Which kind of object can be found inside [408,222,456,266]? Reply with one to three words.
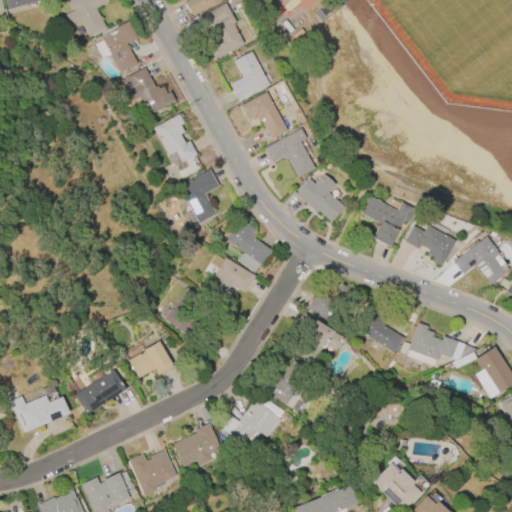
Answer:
house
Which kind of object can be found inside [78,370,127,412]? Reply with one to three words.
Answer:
house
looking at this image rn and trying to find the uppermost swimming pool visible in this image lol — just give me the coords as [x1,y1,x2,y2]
[101,58,118,78]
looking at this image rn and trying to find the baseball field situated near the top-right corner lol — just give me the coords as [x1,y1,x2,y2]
[367,0,512,110]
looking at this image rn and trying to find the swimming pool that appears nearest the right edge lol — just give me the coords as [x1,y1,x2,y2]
[448,374,474,394]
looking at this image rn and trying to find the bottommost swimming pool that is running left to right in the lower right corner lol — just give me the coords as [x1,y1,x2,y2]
[412,442,441,456]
